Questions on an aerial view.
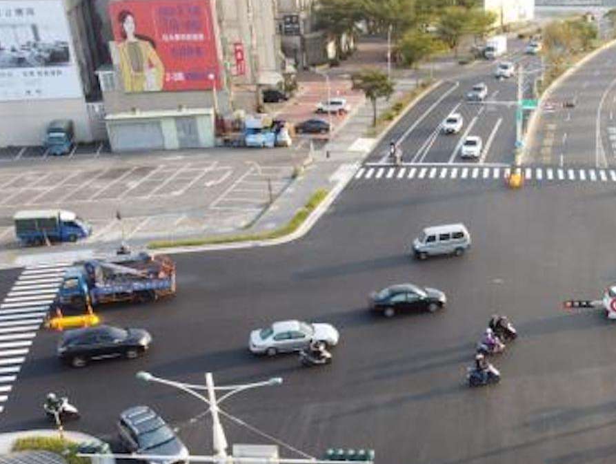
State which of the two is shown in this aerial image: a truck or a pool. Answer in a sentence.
This aerial view contains a truck.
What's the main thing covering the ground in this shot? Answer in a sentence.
The scene is dominated by paved ground.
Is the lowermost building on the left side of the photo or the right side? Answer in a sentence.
The lowermost building appears in the left half of the scene.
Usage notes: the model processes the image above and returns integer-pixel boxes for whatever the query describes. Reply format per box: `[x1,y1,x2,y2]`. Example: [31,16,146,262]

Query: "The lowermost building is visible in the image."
[100,101,218,152]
